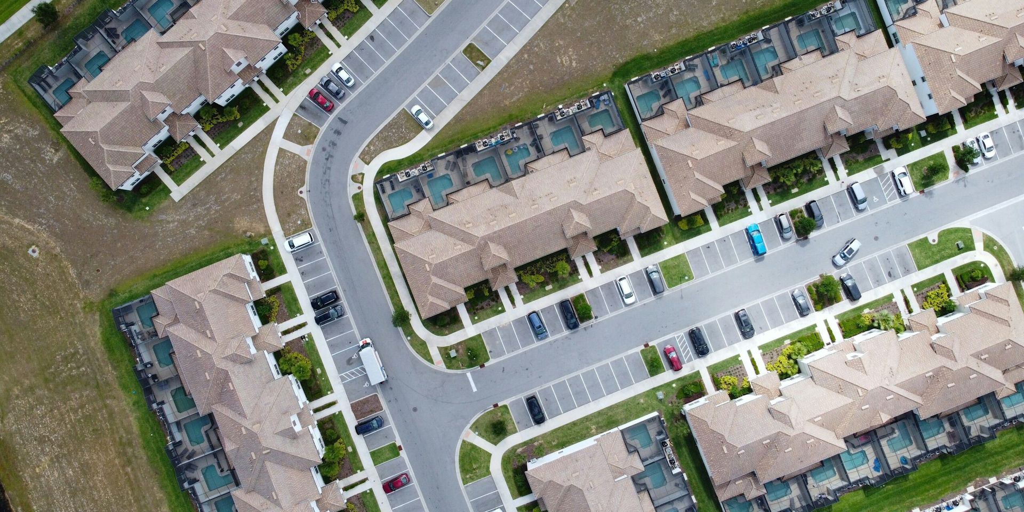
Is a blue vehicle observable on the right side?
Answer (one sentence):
Yes, a blue vehicle appears on the right side.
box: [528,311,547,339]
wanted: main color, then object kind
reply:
blue car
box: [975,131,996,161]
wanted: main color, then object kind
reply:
white car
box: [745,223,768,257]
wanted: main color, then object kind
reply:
blue vehicle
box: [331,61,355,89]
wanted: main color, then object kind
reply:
white car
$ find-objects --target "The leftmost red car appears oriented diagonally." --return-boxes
[308,87,335,113]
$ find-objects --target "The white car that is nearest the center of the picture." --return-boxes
[616,276,635,304]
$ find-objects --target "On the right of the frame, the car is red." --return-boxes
[664,344,683,372]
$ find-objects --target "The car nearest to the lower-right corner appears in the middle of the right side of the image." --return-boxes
[839,273,863,303]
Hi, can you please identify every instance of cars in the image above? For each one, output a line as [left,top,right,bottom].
[975,131,996,161]
[804,199,824,229]
[560,299,580,330]
[284,232,315,252]
[382,474,411,492]
[847,181,868,211]
[411,104,434,131]
[526,395,545,425]
[528,311,547,339]
[308,87,335,113]
[314,306,345,326]
[832,238,861,265]
[354,415,385,435]
[775,213,794,239]
[311,291,340,310]
[962,136,983,165]
[616,276,635,304]
[734,309,754,339]
[689,326,709,357]
[320,75,346,101]
[646,265,666,295]
[331,61,355,89]
[664,344,683,372]
[791,288,811,317]
[839,273,863,303]
[893,167,916,196]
